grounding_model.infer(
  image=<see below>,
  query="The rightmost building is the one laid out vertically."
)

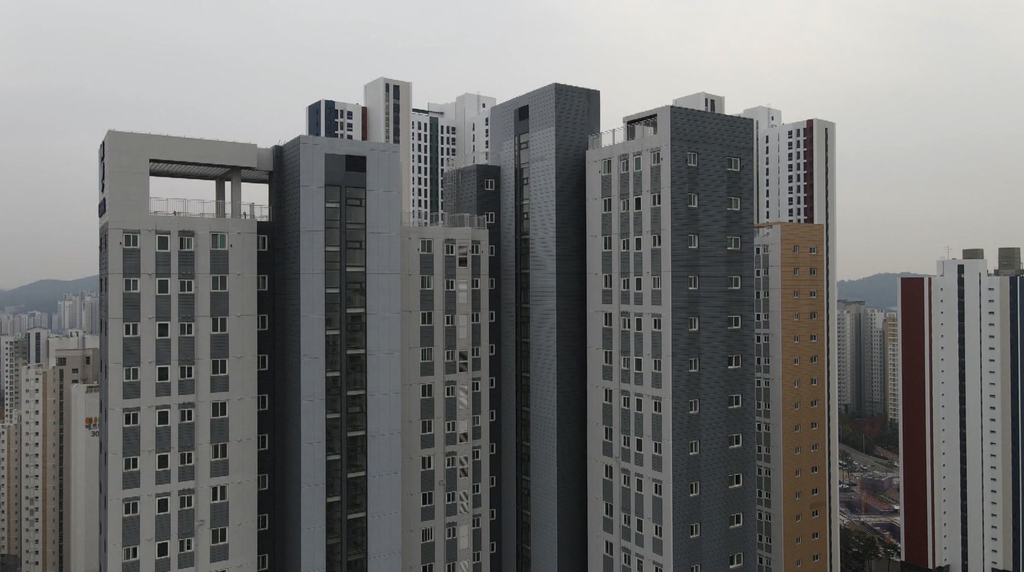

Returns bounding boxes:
[898,259,1024,572]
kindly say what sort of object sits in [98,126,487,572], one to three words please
building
